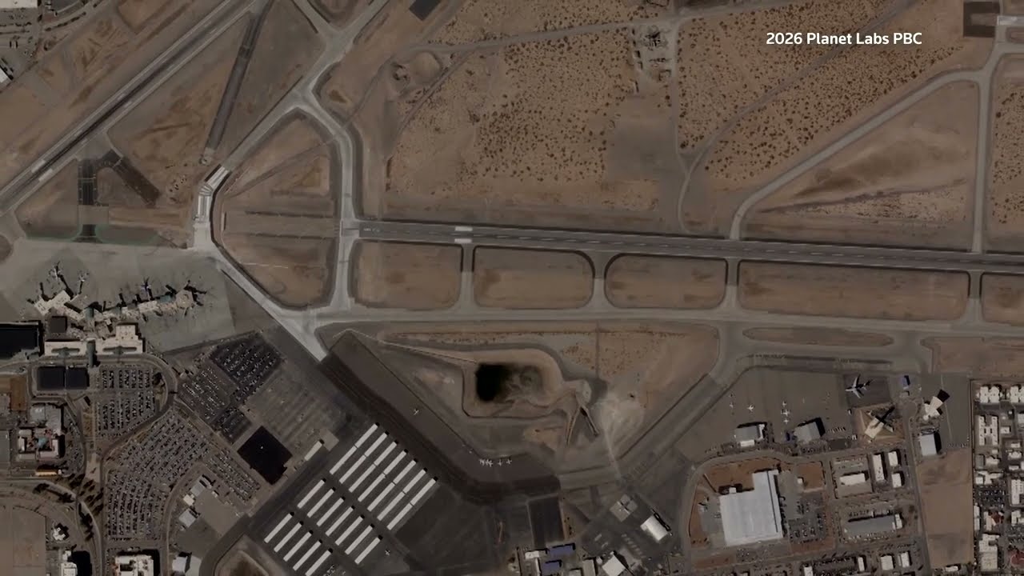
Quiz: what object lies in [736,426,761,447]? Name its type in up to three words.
hangar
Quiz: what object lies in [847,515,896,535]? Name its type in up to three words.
building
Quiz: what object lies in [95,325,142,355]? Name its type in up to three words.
building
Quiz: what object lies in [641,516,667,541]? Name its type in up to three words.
hangar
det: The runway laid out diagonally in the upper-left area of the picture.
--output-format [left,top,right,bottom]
[0,0,261,218]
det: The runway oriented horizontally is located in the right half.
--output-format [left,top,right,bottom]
[359,218,1024,276]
